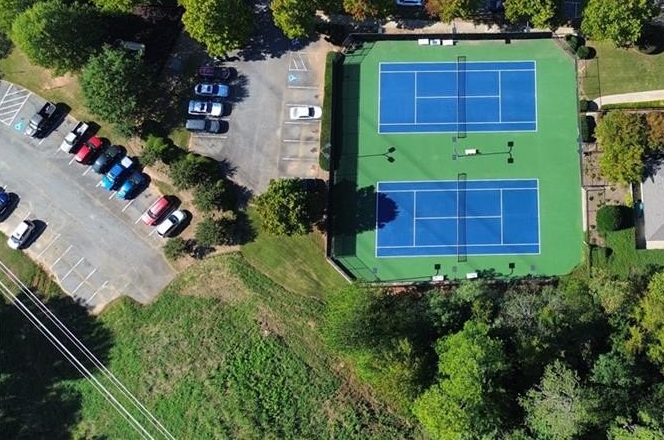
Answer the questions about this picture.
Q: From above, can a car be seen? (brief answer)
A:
Yes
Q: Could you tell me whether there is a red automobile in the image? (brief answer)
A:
Yes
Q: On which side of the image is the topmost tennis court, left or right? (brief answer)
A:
right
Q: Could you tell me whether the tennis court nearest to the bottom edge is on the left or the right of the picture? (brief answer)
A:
right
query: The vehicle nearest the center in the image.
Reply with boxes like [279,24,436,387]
[290,105,320,121]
